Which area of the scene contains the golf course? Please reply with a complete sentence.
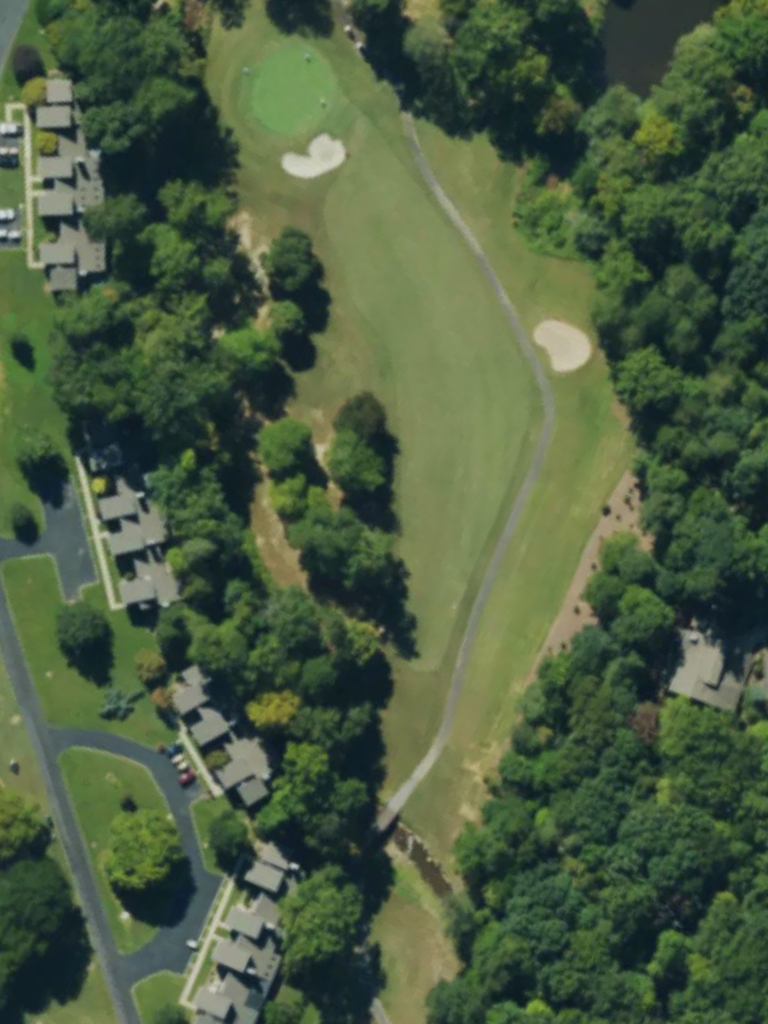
The golf course appears toward the center of the photo.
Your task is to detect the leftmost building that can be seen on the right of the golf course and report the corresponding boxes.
[669,634,758,712]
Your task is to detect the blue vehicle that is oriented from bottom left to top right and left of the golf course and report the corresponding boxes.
[166,743,182,756]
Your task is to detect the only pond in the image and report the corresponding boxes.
[597,0,713,100]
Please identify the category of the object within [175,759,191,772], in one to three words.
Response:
vehicle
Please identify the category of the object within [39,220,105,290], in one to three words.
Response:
house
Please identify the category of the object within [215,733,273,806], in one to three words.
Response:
house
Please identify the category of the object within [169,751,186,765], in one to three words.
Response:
car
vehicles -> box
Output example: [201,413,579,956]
[2,229,20,238]
[166,743,182,756]
[184,939,200,949]
[169,751,186,765]
[0,155,18,162]
[344,24,351,33]
[0,146,18,154]
[355,41,363,50]
[179,769,196,783]
[175,759,191,772]
[0,210,15,218]
[0,125,17,132]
